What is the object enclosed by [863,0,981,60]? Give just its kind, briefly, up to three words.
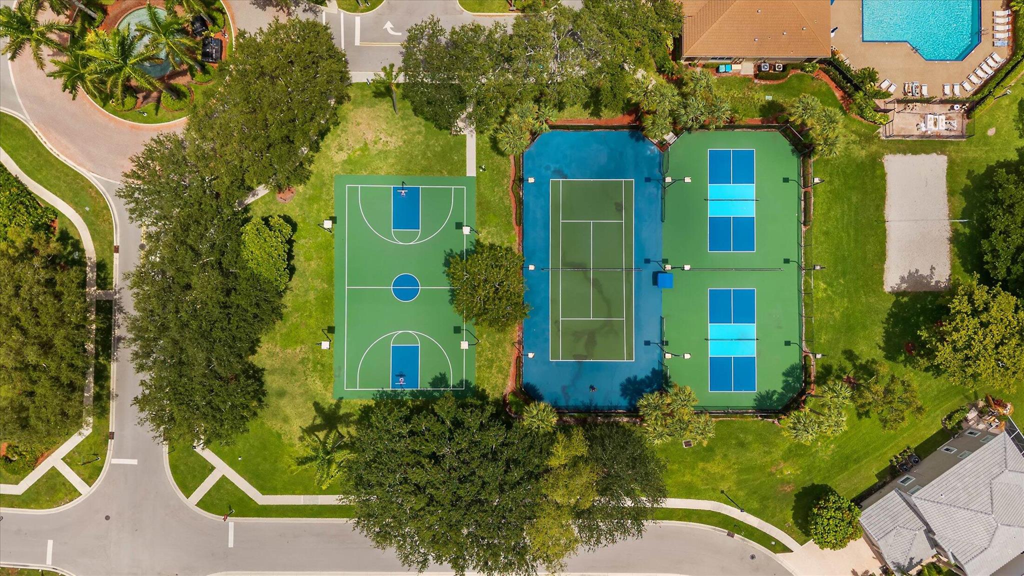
swimming pool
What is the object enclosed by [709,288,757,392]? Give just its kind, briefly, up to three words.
sports court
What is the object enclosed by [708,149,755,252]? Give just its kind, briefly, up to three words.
sports court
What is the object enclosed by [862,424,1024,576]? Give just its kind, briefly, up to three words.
house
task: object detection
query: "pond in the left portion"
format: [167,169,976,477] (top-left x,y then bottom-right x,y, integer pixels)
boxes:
[112,3,189,80]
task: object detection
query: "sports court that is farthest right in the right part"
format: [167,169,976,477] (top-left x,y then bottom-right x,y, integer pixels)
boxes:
[882,153,953,294]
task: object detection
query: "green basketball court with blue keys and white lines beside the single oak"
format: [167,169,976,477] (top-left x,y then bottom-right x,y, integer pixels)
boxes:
[333,175,476,399]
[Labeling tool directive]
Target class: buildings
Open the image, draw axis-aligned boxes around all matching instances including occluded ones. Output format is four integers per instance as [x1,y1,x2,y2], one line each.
[862,424,1024,576]
[649,0,831,64]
